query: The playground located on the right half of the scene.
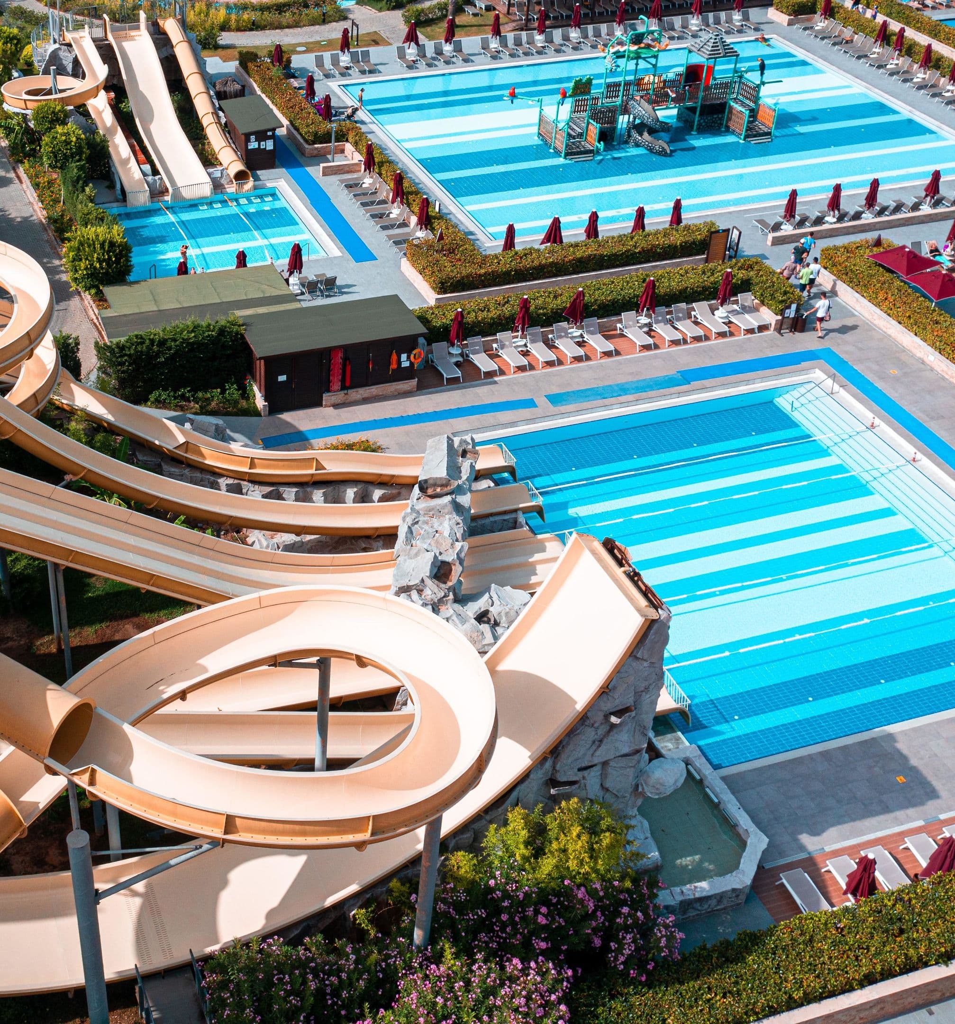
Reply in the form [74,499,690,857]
[492,0,783,163]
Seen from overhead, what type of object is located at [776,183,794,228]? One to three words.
umbrella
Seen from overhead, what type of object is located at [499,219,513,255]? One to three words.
umbrella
